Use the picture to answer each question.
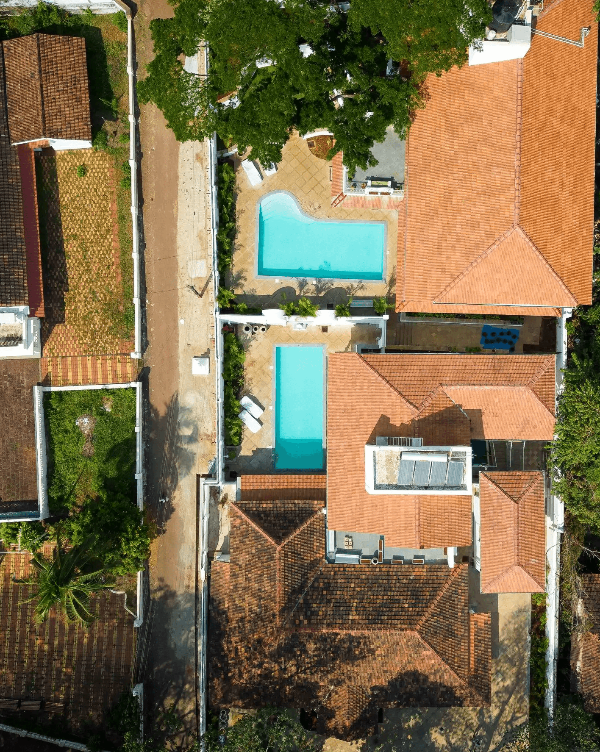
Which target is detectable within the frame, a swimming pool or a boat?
swimming pool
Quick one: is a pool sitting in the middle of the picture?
Yes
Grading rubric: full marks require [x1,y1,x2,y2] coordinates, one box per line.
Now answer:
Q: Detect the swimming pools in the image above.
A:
[271,343,327,472]
[253,189,389,285]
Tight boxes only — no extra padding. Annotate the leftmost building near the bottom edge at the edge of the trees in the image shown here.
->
[208,471,492,742]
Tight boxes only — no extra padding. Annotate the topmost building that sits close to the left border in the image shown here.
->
[2,33,92,157]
